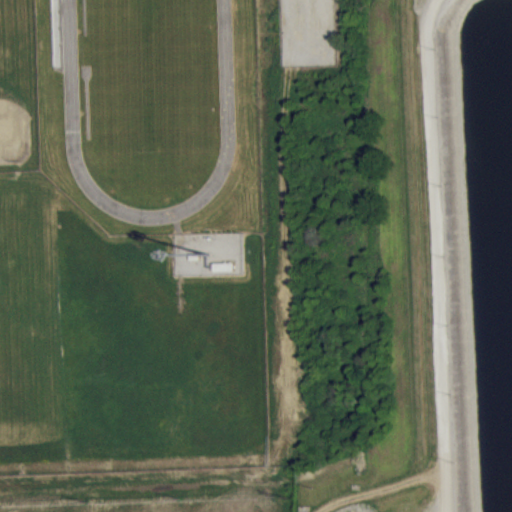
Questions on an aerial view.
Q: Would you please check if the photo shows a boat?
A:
No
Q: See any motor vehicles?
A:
No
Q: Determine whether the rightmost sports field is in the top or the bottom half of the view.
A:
top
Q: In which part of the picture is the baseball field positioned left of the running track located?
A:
top left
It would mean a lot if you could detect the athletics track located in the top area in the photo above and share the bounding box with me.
[61,0,236,225]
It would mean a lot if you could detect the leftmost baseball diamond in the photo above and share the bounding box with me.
[0,100,30,165]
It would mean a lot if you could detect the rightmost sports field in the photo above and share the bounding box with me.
[76,0,220,209]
